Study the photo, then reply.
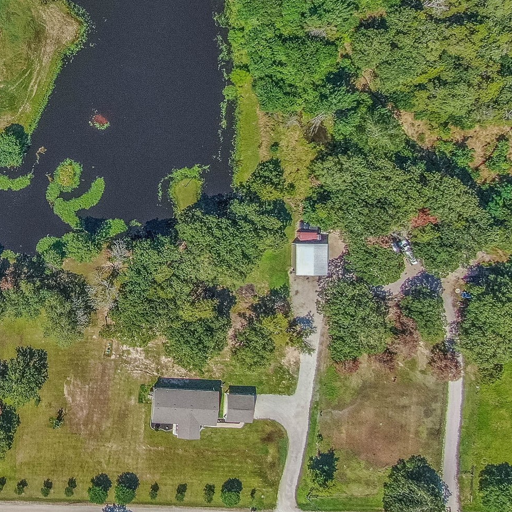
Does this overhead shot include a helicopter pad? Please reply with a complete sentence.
No, I can see no helicopter pad in this picture.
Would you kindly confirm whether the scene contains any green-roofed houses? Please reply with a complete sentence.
No, no green-roofed house can be seen from above.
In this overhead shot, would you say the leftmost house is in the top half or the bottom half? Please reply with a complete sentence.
It is in the bottom half that the leftmost house appears.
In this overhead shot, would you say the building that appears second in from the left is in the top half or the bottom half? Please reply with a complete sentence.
The building that appears second in from the left sits in the bottom half of the picture.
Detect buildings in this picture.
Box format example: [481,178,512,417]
[152,386,221,441]
[288,244,328,276]
[225,393,255,423]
